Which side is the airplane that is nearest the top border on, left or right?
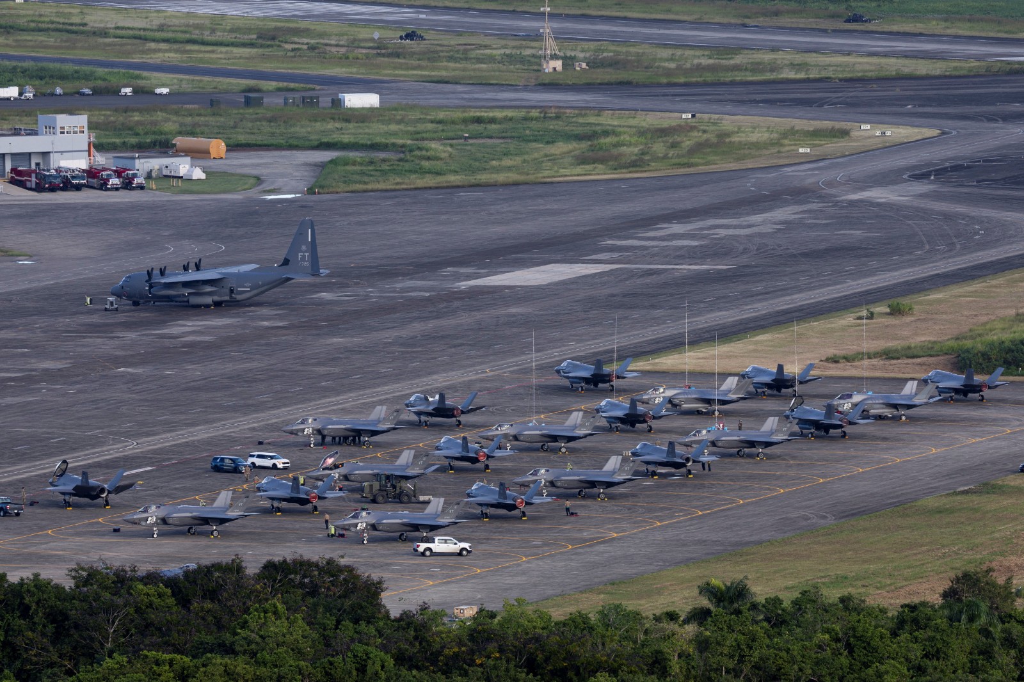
left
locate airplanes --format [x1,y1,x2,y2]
[250,472,347,513]
[38,456,137,507]
[332,494,475,543]
[282,404,408,447]
[554,355,641,391]
[403,389,487,427]
[736,360,823,396]
[462,477,555,519]
[480,409,609,452]
[596,394,677,432]
[431,432,517,471]
[303,447,440,492]
[515,453,648,499]
[624,438,720,477]
[829,379,945,420]
[110,219,336,307]
[924,365,1011,401]
[677,415,806,458]
[783,391,872,438]
[120,489,261,538]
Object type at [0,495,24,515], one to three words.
vehicle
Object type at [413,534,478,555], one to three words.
truck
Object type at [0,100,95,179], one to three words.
building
